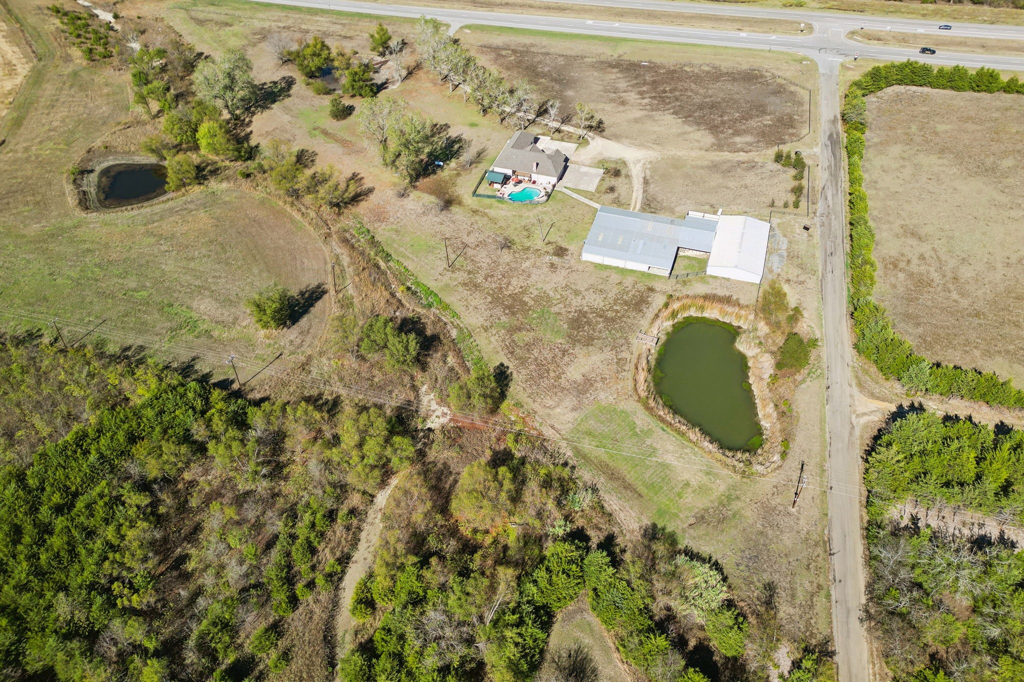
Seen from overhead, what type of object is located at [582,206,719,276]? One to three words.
barn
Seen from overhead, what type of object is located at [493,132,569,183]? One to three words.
house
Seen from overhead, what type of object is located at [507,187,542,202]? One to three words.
swimming pool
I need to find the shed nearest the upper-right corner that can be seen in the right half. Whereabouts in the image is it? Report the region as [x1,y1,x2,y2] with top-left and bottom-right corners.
[706,216,774,285]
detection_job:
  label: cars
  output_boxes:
[938,24,952,29]
[919,45,936,53]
